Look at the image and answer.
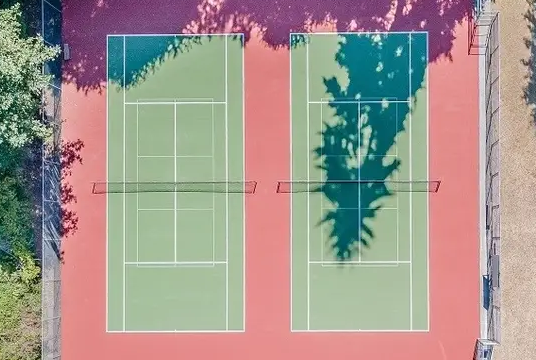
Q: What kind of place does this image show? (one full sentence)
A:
The area seen from above is a sports ground.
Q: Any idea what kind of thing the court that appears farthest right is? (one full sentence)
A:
What you see as the court that appears farthest right is a tennis court.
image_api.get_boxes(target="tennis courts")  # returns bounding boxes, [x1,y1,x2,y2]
[107,34,245,332]
[291,32,429,332]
